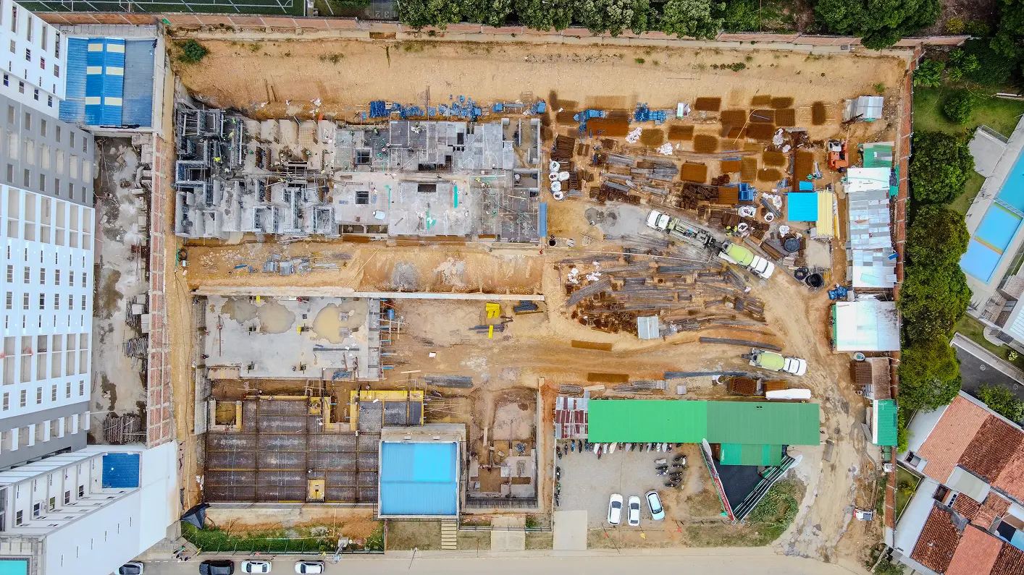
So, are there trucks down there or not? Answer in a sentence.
Yes, you can see a truck in this photo.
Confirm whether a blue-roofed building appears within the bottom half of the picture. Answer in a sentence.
Yes, a blue-roofed building appears within the bottom half of the picture.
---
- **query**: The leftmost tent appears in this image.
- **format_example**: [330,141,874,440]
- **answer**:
[182,504,210,528]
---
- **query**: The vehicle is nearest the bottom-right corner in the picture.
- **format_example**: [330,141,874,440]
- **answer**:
[854,508,879,525]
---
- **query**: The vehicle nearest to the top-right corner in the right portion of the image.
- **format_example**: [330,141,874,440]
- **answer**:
[829,106,870,170]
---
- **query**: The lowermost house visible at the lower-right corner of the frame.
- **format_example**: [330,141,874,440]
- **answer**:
[892,477,1024,575]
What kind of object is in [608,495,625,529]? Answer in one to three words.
car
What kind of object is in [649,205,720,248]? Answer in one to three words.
truck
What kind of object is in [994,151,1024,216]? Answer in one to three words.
swimming pool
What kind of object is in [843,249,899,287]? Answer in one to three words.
shed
